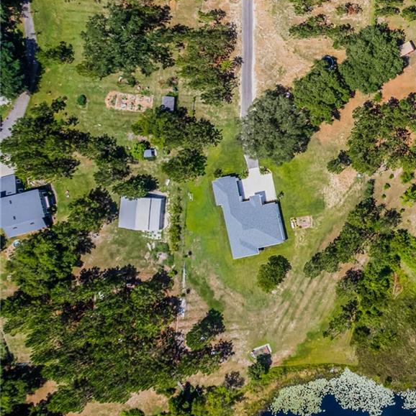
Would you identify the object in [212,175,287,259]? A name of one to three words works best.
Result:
house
